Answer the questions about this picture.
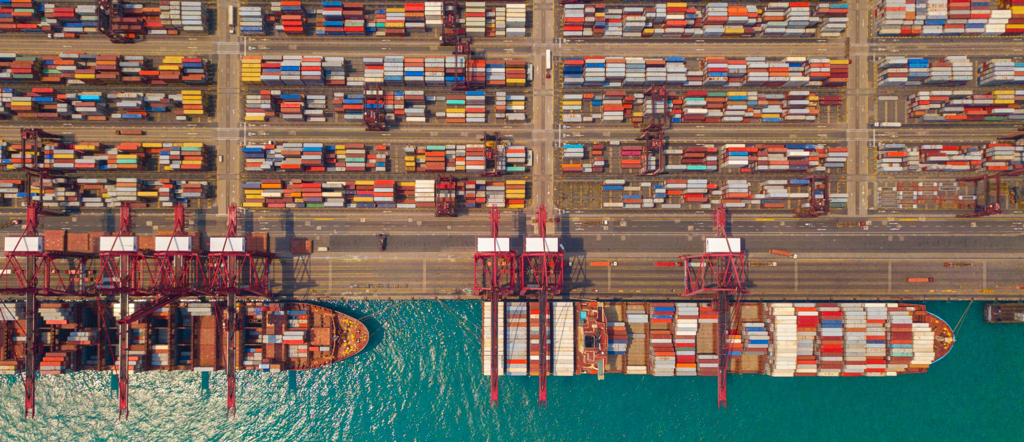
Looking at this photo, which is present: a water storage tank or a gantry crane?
gantry crane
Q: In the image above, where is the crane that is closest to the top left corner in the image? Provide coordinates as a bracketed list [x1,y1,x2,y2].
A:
[97,0,135,43]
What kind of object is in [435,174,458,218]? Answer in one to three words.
crane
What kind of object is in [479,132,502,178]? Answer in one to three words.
crane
